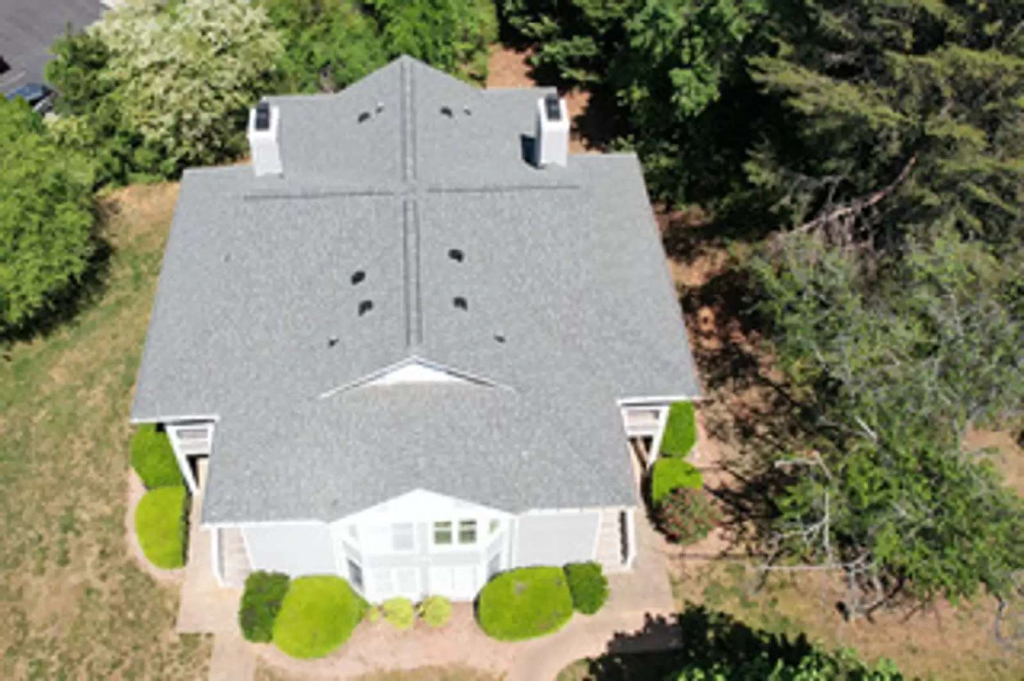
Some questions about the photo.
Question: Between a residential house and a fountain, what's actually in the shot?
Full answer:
There is a residential house in the scene.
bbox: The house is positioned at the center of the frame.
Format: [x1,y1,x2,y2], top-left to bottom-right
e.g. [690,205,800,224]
[131,56,701,603]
